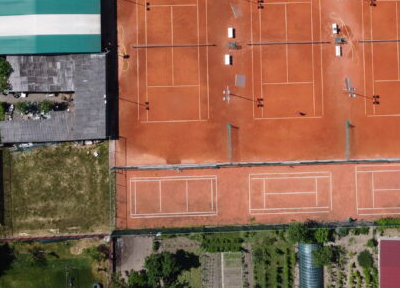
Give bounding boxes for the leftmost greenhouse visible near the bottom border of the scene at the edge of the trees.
[299,244,323,288]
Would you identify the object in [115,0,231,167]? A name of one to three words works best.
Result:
tennis court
